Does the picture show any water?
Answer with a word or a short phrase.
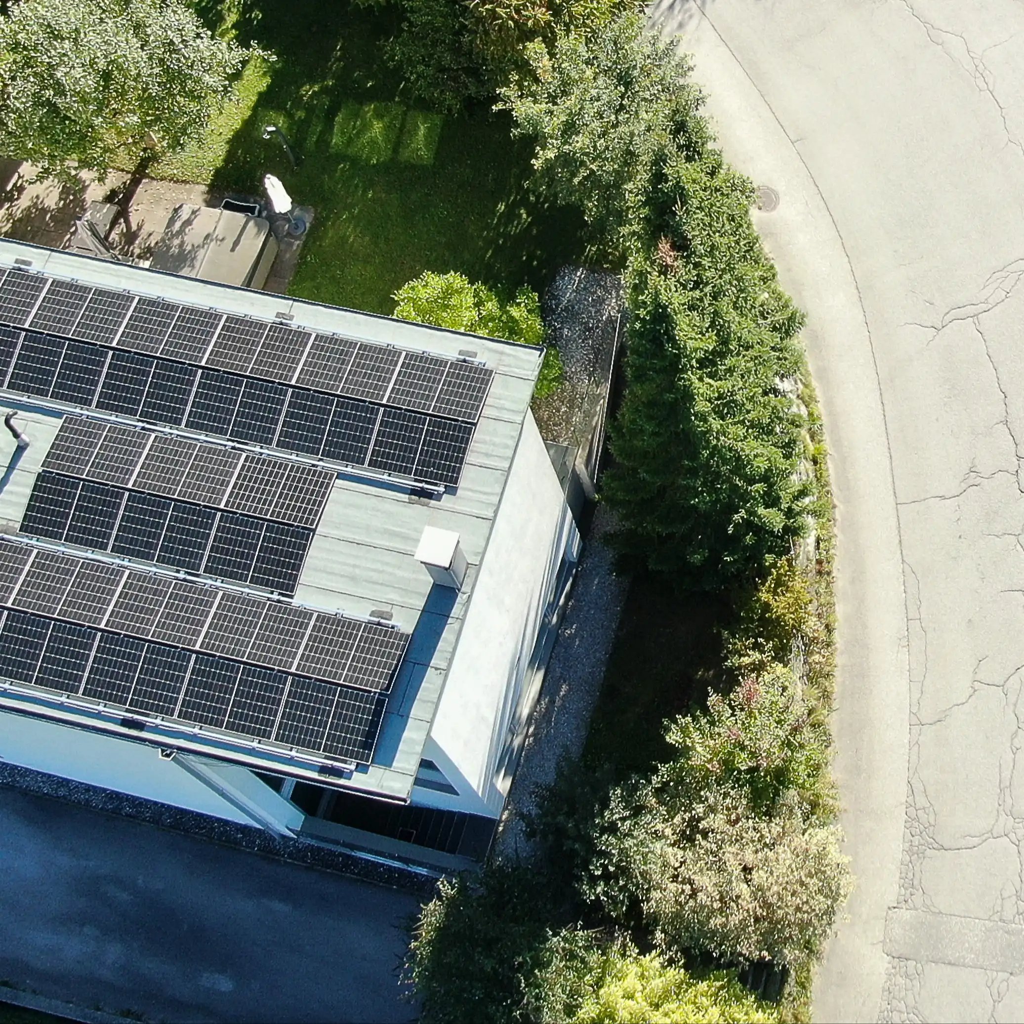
No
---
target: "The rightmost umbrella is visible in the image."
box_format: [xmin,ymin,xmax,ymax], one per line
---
[261,167,306,235]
